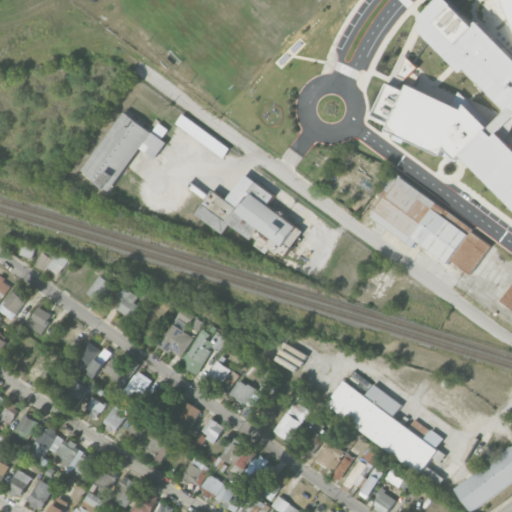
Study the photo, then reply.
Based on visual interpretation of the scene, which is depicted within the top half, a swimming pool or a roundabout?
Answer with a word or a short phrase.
roundabout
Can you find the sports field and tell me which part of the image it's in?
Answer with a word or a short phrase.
top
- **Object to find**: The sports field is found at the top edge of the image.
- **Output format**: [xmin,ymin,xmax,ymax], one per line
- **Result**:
[118,0,322,103]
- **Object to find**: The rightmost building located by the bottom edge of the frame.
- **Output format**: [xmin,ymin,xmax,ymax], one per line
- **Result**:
[453,444,512,510]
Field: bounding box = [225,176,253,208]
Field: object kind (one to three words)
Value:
building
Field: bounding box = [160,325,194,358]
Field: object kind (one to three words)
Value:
house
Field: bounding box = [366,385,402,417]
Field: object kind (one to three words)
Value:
shed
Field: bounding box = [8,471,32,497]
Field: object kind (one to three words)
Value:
house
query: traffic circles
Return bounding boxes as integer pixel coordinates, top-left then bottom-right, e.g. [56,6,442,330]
[296,73,365,143]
